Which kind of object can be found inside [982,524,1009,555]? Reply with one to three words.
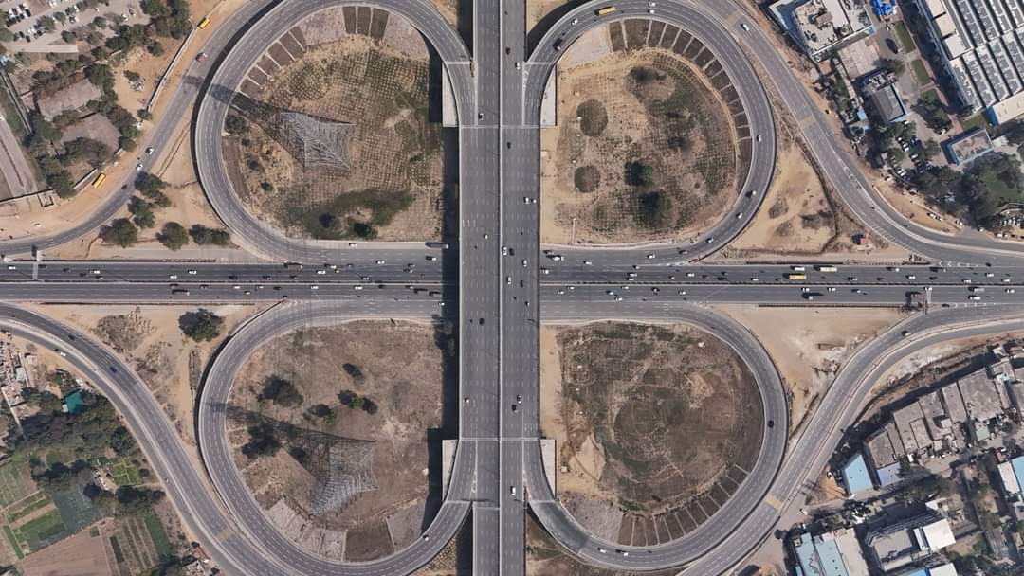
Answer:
house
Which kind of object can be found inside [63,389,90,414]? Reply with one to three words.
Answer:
shed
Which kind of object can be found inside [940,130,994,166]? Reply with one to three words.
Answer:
house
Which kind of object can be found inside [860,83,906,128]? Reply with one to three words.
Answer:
building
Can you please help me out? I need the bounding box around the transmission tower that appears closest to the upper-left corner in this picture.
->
[274,110,356,169]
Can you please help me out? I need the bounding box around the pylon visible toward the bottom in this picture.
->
[303,441,378,510]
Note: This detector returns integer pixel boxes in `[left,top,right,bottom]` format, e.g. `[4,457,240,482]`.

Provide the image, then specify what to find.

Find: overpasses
[443,0,556,576]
